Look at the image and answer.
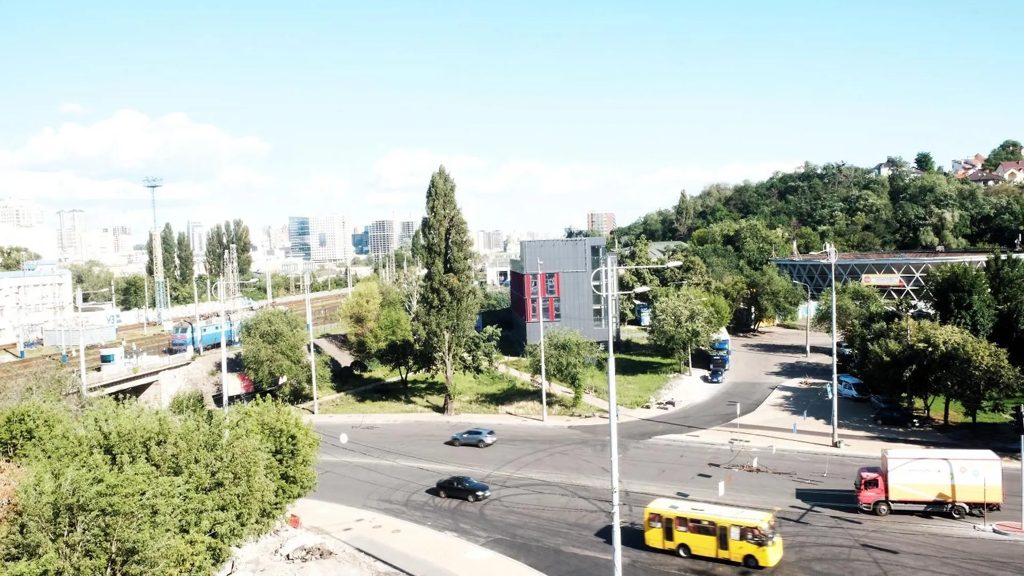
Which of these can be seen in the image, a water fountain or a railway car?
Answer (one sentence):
Looking from above, you can make out a railway car.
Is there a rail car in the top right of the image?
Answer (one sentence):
No, there is no rail car in the top right of the image.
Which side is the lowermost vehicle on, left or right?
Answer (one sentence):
The lowermost vehicle is on the right side of the image.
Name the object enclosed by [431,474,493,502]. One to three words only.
car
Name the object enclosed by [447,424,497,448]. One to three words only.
car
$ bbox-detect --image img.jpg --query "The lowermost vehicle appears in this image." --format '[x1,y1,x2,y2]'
[647,500,781,567]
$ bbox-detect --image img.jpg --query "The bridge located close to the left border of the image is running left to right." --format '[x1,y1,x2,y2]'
[0,356,194,406]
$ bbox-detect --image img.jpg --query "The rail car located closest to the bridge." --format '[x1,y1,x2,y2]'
[169,313,243,349]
